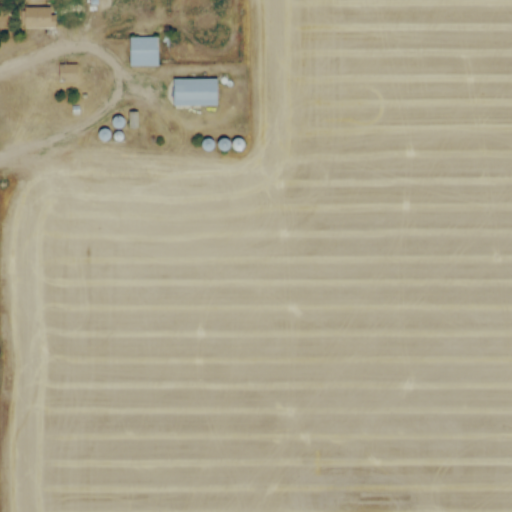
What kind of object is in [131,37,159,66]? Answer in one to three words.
barn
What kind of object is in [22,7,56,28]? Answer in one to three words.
house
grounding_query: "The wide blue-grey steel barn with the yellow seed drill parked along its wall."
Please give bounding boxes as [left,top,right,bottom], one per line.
[174,78,218,106]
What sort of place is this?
farmland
